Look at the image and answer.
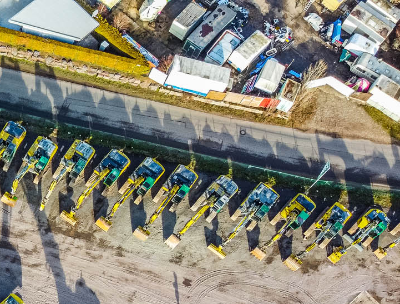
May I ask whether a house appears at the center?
No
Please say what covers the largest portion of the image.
paved ground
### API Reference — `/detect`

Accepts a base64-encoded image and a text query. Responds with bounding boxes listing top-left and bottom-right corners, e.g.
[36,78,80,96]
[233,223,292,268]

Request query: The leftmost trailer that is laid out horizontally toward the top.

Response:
[168,55,231,93]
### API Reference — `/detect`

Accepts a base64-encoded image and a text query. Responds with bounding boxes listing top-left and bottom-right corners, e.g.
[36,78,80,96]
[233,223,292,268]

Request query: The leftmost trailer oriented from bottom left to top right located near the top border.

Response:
[169,2,207,41]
